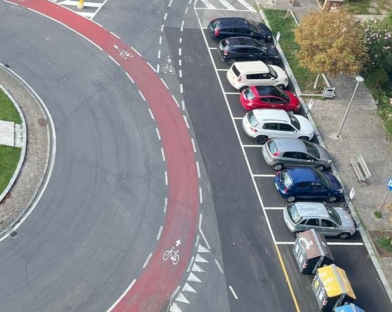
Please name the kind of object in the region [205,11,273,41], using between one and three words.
car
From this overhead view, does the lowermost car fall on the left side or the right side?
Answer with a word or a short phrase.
right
